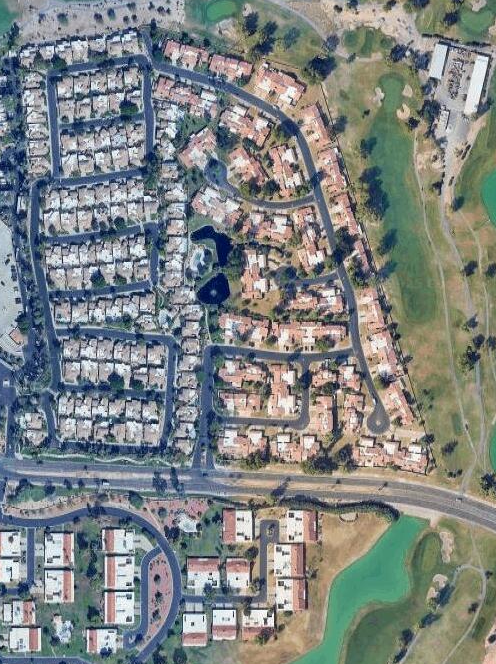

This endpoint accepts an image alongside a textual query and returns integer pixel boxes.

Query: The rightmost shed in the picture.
[465,54,490,114]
